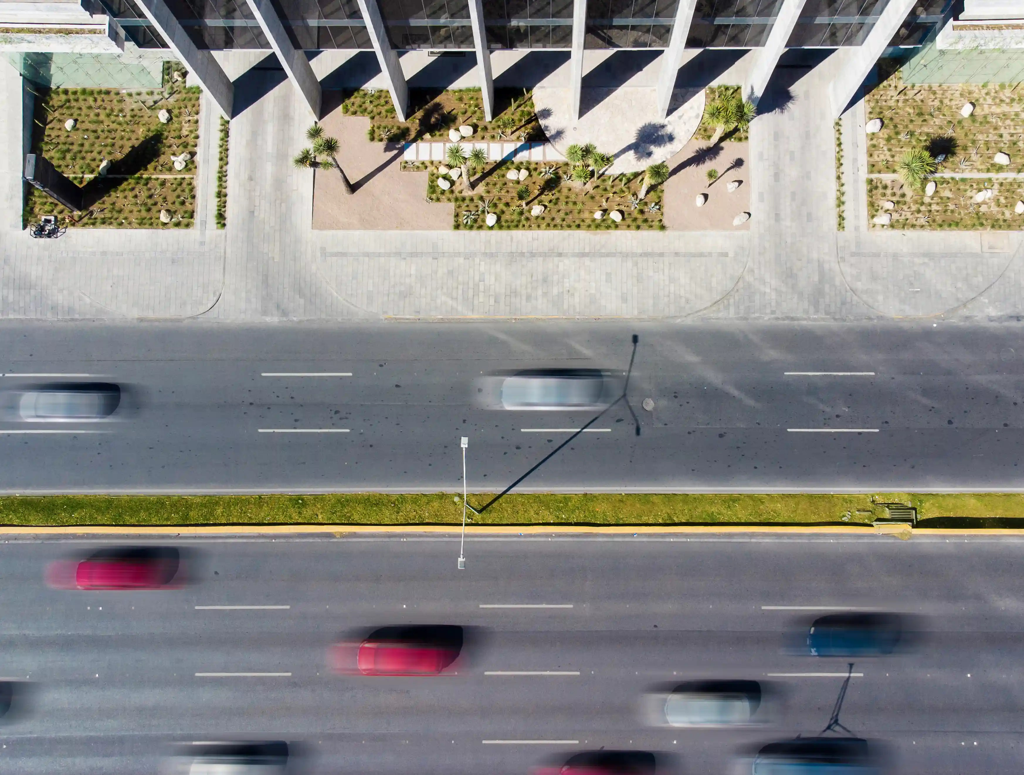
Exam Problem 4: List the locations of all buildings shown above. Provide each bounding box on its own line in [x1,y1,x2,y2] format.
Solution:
[97,0,953,123]
[903,0,1024,85]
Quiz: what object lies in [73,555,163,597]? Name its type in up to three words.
car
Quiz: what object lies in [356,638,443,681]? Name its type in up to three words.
car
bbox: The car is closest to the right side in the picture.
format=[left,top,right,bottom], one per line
[807,621,881,664]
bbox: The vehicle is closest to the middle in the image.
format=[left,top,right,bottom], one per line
[501,374,585,414]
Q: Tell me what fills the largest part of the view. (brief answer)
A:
paved ground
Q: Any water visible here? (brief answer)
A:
No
